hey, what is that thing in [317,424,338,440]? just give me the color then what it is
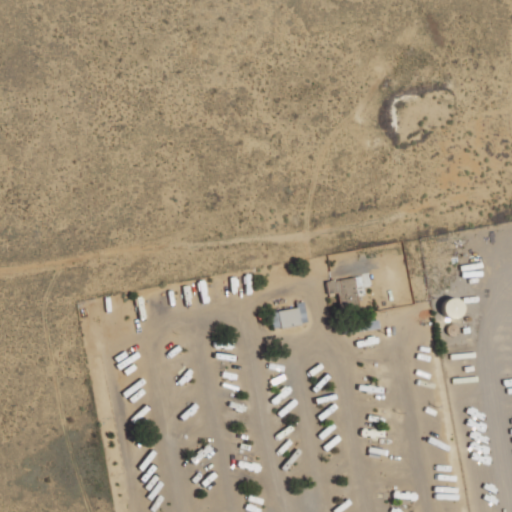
white vehicle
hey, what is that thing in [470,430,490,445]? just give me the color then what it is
white vehicle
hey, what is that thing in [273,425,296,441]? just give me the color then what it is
white camper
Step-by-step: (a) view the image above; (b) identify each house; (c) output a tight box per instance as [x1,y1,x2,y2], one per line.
[328,274,372,310]
[274,302,308,330]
